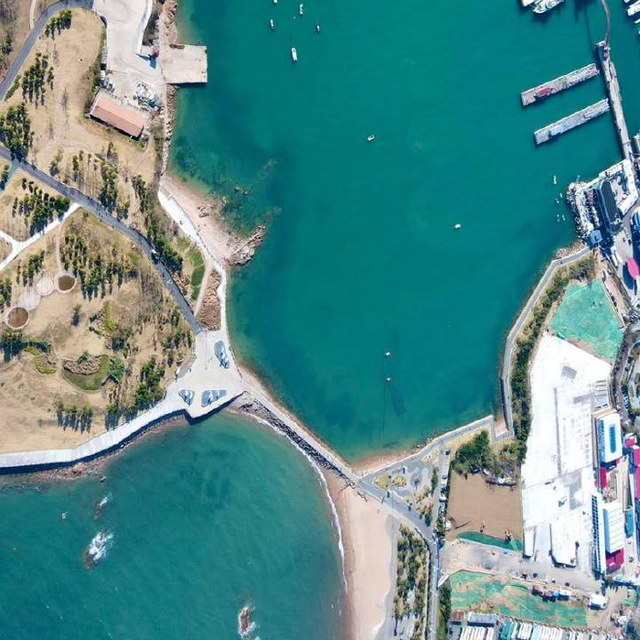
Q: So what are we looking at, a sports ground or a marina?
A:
marina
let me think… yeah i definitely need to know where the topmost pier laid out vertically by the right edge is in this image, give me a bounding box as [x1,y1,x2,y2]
[598,42,638,162]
